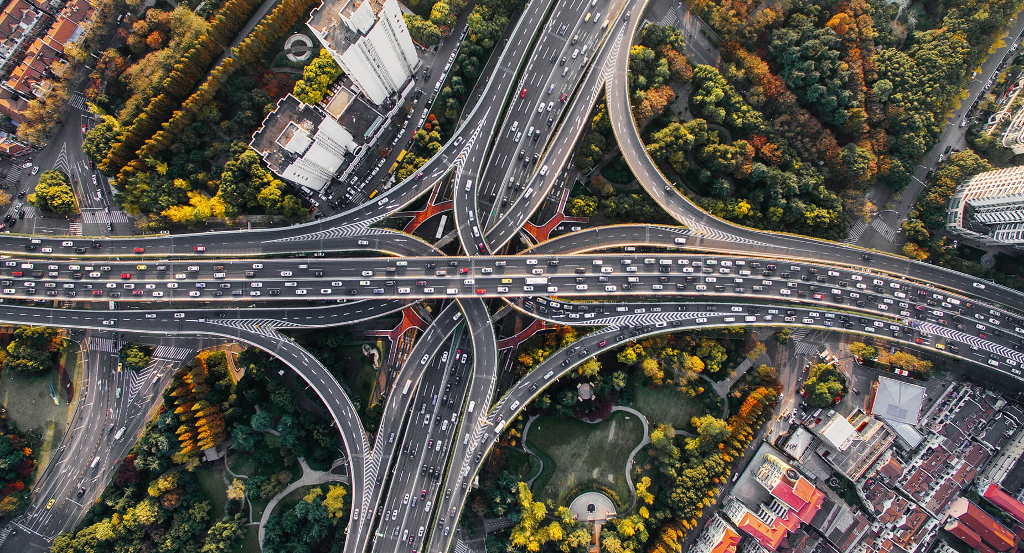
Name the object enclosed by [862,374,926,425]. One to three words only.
building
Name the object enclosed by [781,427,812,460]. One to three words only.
building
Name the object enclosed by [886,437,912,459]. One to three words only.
house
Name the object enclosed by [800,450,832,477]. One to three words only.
shed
